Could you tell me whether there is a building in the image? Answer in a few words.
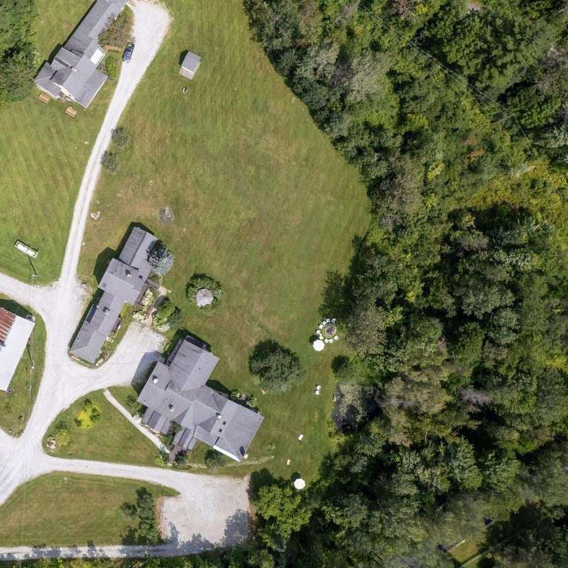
Yes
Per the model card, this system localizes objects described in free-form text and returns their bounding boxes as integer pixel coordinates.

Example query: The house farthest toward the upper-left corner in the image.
[36,0,127,109]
